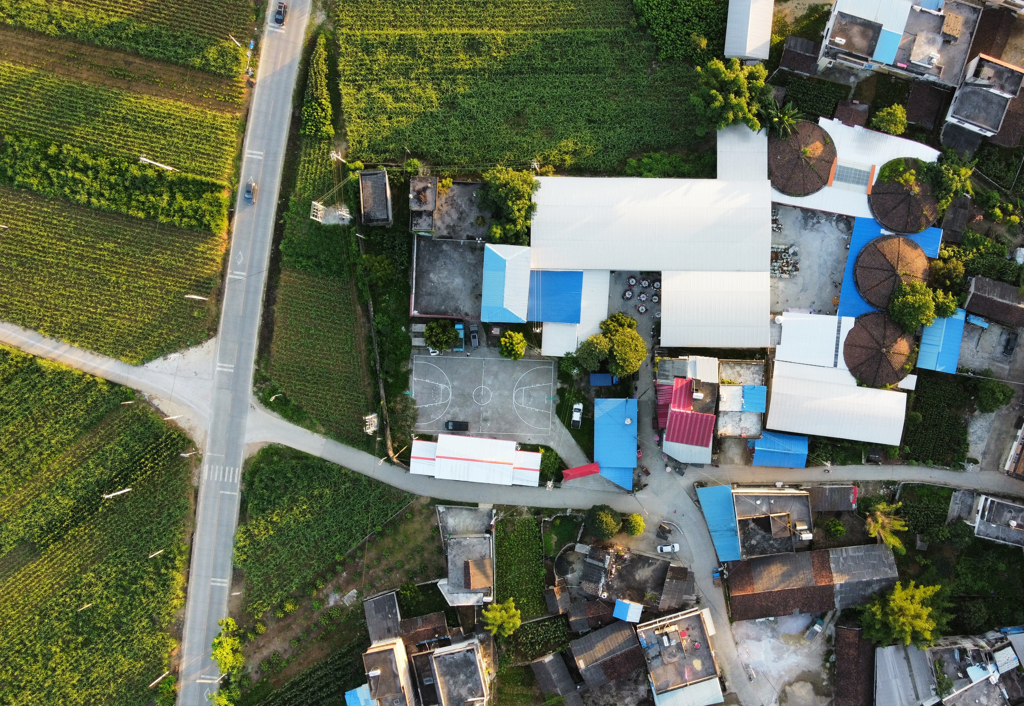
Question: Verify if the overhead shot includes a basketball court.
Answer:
Yes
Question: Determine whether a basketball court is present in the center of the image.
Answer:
Yes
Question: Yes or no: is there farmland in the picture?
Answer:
Yes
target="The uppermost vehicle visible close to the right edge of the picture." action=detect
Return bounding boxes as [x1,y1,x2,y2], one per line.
[1005,330,1022,357]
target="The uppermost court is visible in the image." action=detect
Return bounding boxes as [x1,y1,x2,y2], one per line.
[412,352,559,439]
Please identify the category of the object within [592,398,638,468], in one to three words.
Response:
shed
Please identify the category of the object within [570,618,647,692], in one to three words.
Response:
barn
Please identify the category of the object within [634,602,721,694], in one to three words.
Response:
house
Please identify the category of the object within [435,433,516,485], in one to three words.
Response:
building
